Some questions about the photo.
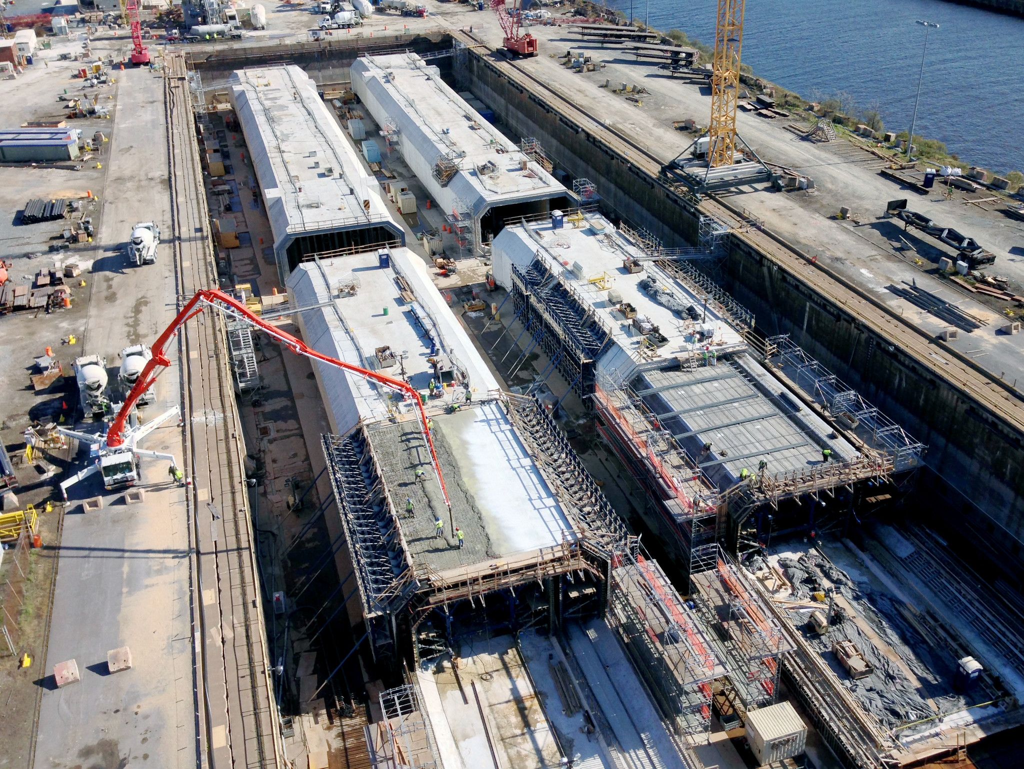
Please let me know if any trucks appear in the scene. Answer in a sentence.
Yes, you can see a truck in this photo.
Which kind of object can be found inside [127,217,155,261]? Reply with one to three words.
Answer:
truck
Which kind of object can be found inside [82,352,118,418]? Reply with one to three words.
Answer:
truck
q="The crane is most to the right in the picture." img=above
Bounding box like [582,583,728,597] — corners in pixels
[656,0,776,199]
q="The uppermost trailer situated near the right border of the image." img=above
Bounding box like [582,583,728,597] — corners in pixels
[883,193,1003,268]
